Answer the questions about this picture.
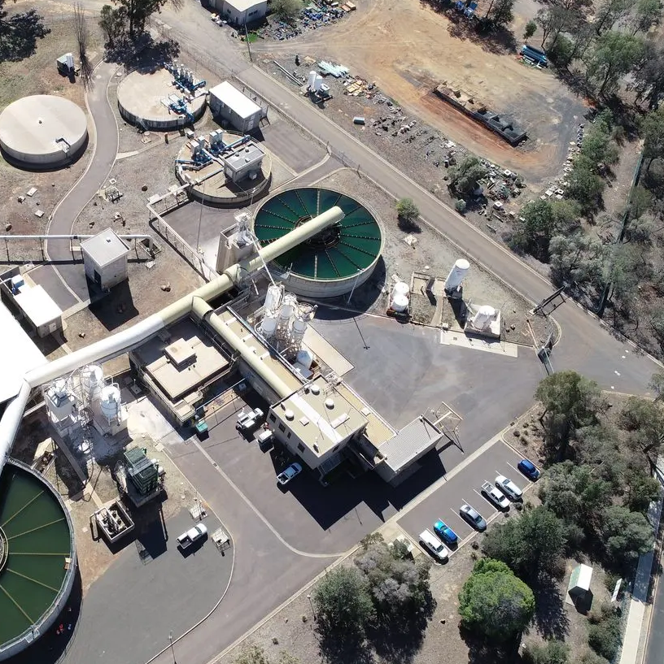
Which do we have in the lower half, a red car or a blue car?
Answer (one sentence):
The one visible in the lower half is a blue car.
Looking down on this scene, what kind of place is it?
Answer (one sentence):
It's an industrial area.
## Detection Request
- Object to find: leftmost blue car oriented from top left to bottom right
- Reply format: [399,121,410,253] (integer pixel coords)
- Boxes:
[429,519,463,548]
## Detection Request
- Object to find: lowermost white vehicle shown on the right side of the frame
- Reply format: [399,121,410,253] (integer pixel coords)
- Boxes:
[414,526,453,565]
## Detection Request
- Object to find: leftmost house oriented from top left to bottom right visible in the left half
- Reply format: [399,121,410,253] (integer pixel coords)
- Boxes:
[0,266,62,338]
